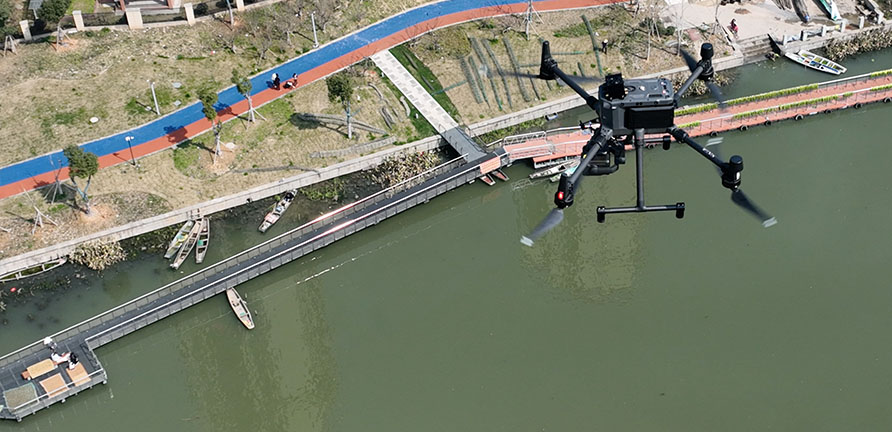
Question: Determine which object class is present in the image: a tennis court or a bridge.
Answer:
bridge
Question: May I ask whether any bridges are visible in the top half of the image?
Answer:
Yes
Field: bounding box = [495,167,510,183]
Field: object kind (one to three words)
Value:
boat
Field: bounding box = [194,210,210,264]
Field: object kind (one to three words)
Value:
boat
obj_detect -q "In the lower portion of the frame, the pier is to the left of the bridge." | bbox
[0,138,511,424]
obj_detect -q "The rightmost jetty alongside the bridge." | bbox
[532,69,892,163]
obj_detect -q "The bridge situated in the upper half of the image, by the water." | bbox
[503,128,552,164]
